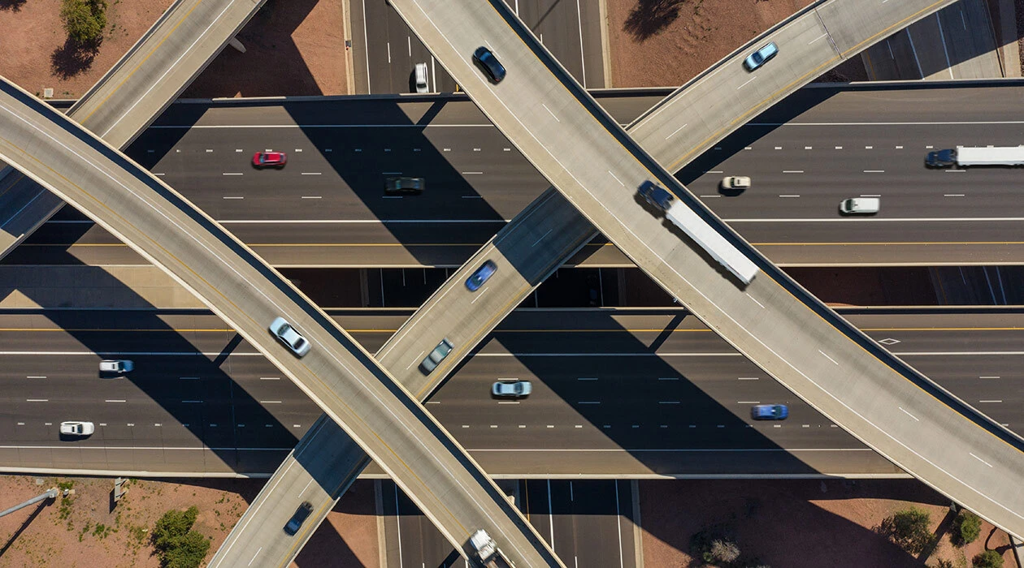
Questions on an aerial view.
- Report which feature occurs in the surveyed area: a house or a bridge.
bridge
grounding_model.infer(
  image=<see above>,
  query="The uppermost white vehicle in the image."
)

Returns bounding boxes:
[415,62,429,93]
